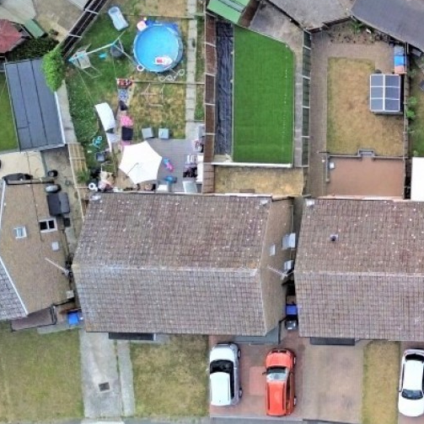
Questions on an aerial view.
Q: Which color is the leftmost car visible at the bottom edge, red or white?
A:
white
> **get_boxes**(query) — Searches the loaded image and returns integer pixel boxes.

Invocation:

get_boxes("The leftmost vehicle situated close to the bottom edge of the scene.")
[203,344,240,410]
